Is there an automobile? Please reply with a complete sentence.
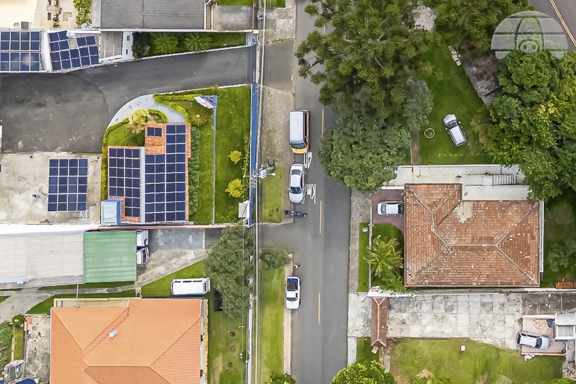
Yes, the image includes an automobile.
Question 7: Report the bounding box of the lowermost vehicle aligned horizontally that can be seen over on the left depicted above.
[170,278,210,296]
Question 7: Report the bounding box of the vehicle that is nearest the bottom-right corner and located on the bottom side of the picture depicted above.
[517,331,550,350]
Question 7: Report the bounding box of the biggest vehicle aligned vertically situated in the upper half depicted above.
[291,111,309,151]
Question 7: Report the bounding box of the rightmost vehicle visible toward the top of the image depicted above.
[444,113,466,146]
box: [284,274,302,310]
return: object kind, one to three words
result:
vehicle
